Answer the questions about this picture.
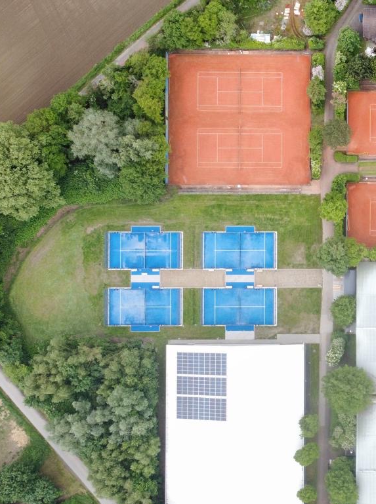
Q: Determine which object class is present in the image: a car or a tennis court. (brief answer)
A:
tennis court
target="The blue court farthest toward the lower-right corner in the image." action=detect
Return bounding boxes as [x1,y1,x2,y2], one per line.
[201,283,278,332]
